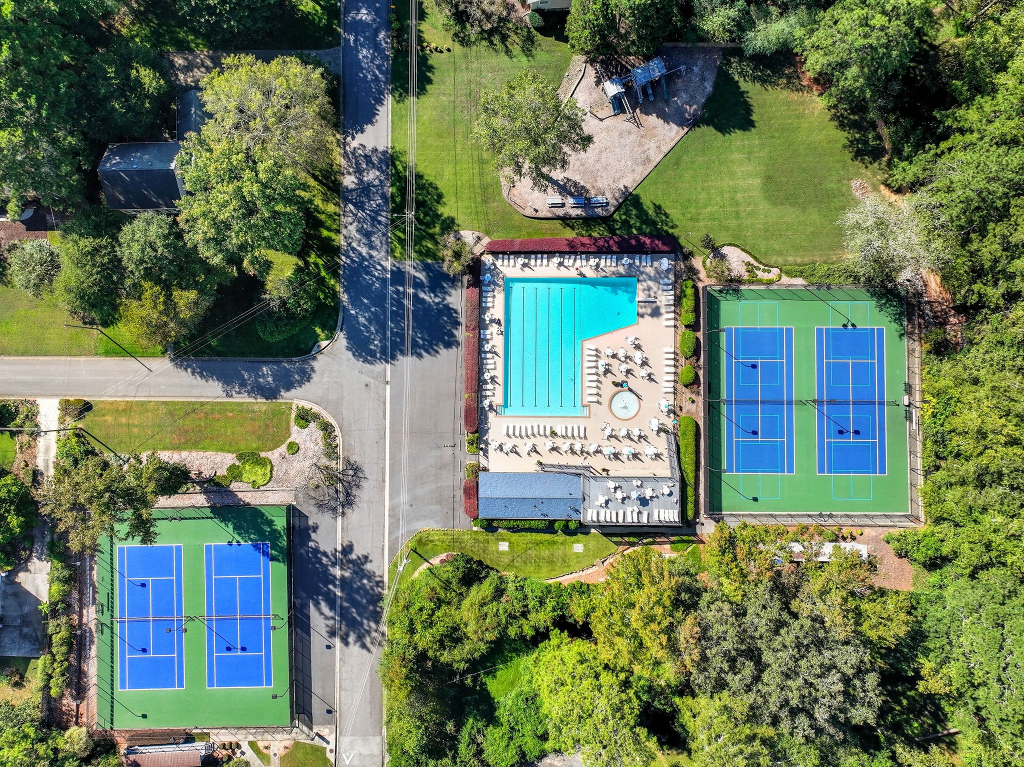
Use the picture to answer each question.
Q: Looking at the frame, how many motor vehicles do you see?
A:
none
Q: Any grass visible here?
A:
Yes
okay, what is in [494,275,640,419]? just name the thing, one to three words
swimming pool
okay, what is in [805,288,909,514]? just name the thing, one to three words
tennis court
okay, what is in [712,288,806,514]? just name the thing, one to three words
tennis court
